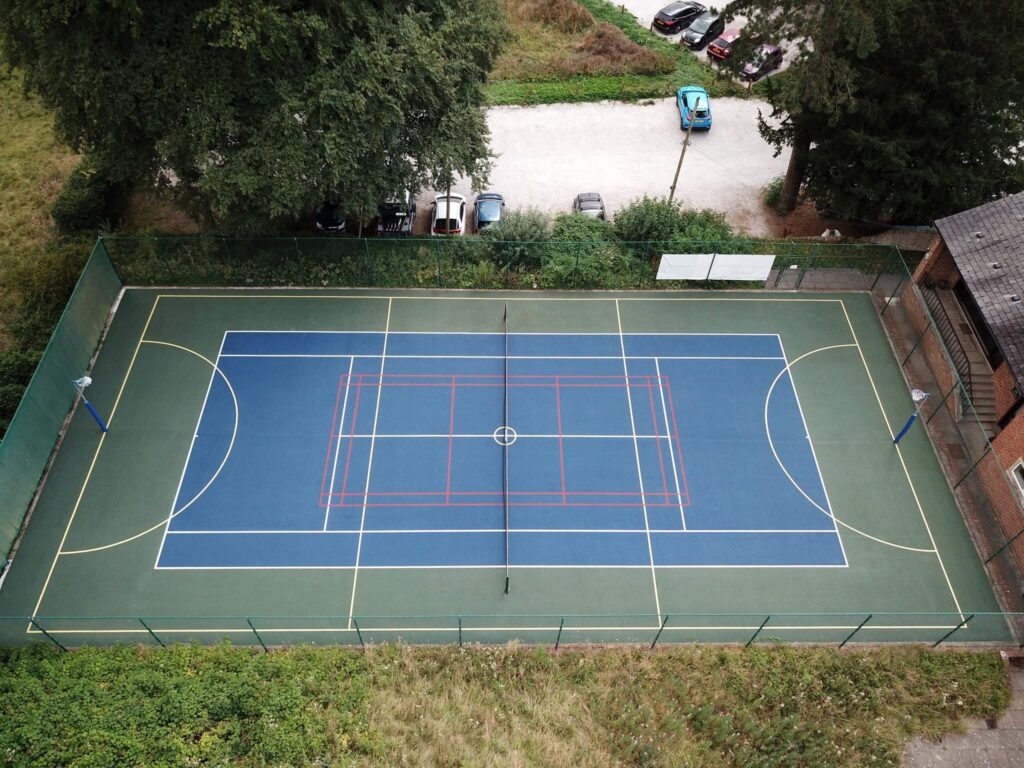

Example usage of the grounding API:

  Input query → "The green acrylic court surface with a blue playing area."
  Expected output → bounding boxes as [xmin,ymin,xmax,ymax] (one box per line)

[0,288,1021,646]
